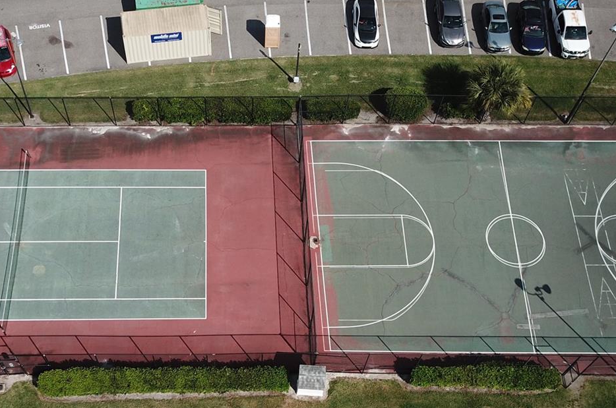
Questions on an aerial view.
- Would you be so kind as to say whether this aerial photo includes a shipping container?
Yes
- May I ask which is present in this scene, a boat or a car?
car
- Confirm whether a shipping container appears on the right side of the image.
No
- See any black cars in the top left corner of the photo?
No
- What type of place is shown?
sports ground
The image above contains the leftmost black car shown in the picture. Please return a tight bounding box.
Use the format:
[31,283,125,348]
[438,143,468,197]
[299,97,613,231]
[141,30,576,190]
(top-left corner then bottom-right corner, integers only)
[349,0,381,49]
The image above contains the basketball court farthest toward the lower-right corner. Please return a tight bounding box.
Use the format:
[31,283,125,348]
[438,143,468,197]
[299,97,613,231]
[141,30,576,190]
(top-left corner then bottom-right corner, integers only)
[298,126,616,375]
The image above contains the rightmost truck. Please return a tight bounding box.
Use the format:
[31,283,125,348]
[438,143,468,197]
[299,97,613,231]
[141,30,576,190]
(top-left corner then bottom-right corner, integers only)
[545,0,589,61]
